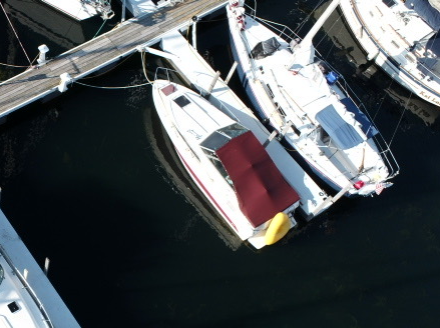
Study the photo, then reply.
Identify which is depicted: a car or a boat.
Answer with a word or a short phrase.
boat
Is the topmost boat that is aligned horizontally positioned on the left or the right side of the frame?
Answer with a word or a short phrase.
left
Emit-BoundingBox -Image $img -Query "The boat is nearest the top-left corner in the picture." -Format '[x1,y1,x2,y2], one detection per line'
[41,0,111,34]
